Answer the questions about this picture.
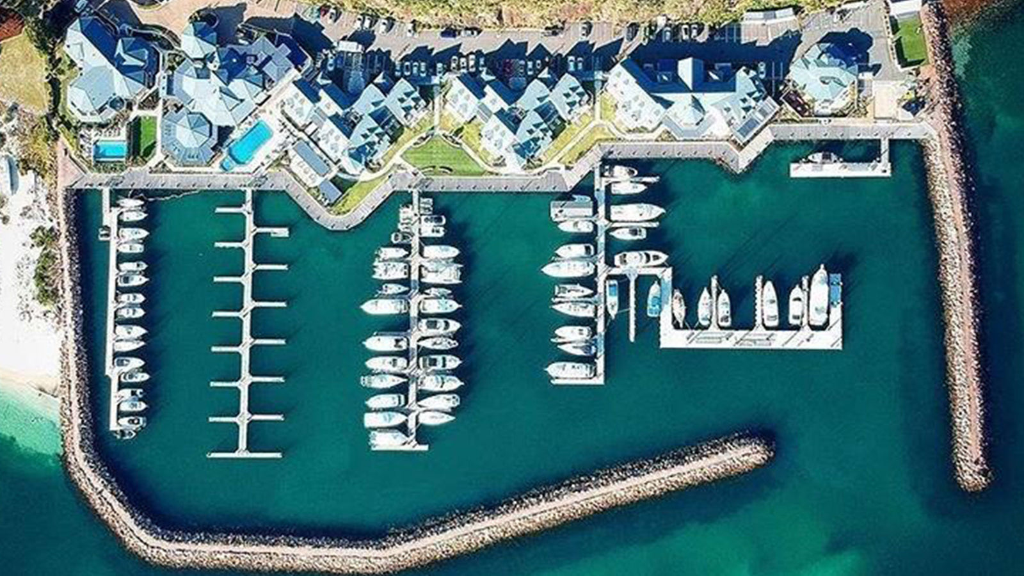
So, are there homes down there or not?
Yes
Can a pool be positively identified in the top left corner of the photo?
Yes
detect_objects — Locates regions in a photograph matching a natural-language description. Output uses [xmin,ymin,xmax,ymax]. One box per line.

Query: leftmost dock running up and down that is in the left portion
[103,190,145,433]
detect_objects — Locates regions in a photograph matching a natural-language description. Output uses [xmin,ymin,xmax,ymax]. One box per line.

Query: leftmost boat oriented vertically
[607,279,619,319]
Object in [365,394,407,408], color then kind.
white boat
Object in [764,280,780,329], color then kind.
white boat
